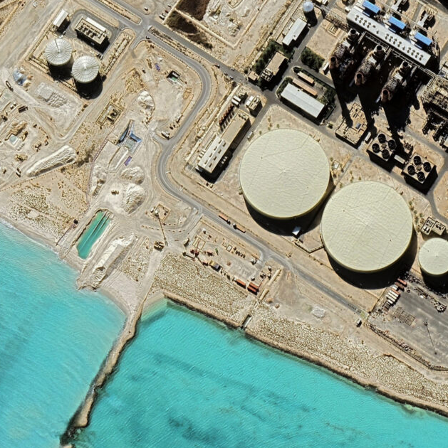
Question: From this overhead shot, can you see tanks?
Yes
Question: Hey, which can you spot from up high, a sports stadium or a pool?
pool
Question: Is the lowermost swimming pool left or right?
left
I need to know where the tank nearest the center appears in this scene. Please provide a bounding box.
[239,128,329,220]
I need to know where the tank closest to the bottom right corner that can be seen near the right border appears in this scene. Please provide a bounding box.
[418,238,448,277]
